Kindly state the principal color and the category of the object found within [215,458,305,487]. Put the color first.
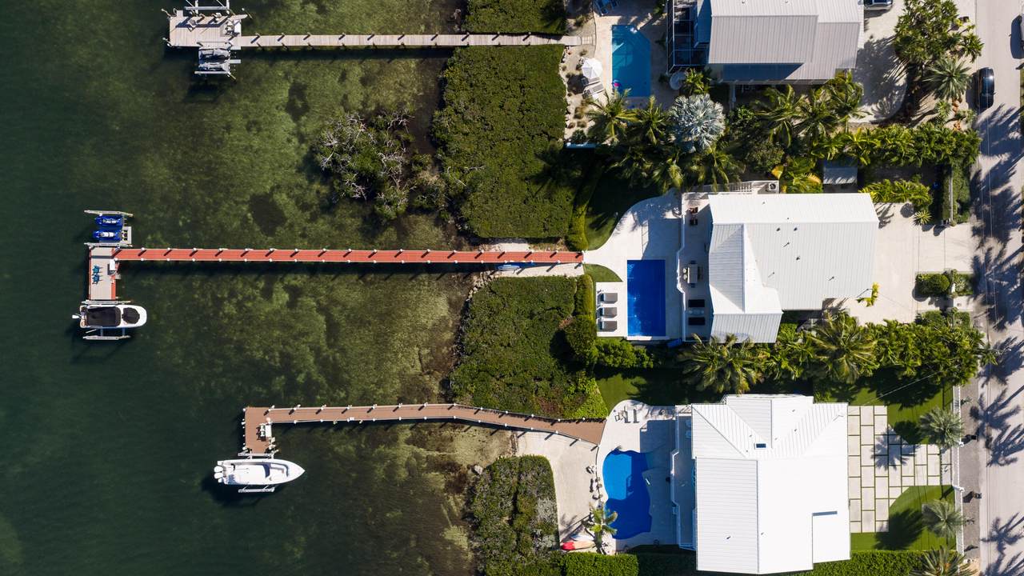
white boat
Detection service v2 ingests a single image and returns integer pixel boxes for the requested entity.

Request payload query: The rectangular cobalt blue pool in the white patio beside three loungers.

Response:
[628,260,666,336]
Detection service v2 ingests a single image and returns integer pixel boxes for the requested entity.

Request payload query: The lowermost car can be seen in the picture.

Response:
[971,67,997,111]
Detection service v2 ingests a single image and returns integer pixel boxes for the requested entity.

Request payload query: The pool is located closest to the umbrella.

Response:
[613,24,651,96]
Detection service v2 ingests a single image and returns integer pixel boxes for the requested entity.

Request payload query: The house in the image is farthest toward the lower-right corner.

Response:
[672,392,850,575]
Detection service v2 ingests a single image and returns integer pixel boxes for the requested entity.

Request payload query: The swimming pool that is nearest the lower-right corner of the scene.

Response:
[604,450,653,541]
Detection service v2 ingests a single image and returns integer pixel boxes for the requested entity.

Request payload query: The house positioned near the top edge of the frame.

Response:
[668,0,862,94]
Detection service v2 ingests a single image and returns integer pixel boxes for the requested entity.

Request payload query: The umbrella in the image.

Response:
[580,58,602,81]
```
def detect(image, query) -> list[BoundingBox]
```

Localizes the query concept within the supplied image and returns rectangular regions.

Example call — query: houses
[672,392,850,575]
[677,181,879,344]
[668,0,862,94]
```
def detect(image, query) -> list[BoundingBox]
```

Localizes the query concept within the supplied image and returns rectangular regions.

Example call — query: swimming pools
[613,24,651,96]
[628,260,666,336]
[604,450,653,541]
